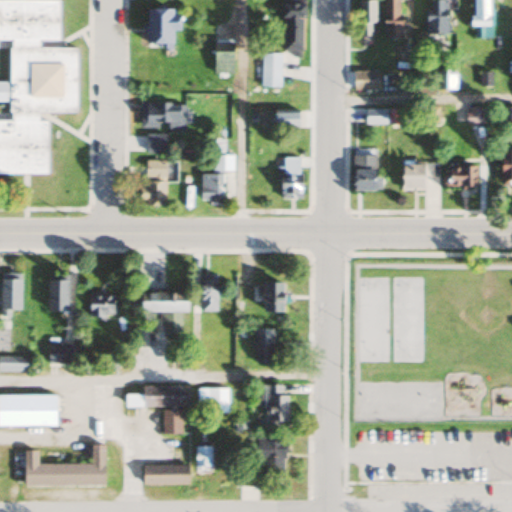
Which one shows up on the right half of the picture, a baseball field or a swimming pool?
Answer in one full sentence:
What appears on the right half of the picture is a baseball field.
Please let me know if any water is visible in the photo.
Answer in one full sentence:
No, no water is visible.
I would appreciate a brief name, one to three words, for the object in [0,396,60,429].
building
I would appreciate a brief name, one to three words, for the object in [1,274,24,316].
house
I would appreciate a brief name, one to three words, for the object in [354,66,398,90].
house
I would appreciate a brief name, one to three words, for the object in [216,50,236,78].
building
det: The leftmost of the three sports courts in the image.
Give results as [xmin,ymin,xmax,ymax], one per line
[360,278,390,363]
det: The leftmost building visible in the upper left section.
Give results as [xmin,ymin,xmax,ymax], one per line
[0,0,80,173]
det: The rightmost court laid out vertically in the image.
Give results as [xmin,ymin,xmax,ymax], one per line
[393,278,425,363]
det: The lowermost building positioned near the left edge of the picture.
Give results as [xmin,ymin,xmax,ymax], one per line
[26,446,106,488]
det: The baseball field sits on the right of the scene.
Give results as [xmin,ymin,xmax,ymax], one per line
[458,270,512,338]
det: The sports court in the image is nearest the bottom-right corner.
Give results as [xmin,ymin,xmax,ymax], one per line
[360,382,444,416]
